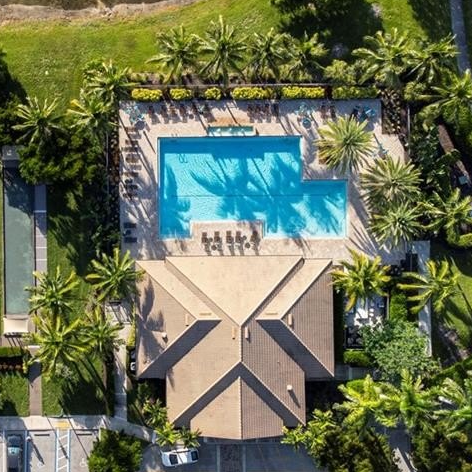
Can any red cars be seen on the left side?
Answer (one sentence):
No, I see no red car on the left side.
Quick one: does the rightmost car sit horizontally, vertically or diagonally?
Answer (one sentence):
The rightmost car is oriented horizontally.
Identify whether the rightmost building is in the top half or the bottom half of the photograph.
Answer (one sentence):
The rightmost building is in the bottom half of the image.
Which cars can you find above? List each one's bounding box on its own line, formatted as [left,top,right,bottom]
[160,448,199,469]
[5,433,24,472]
